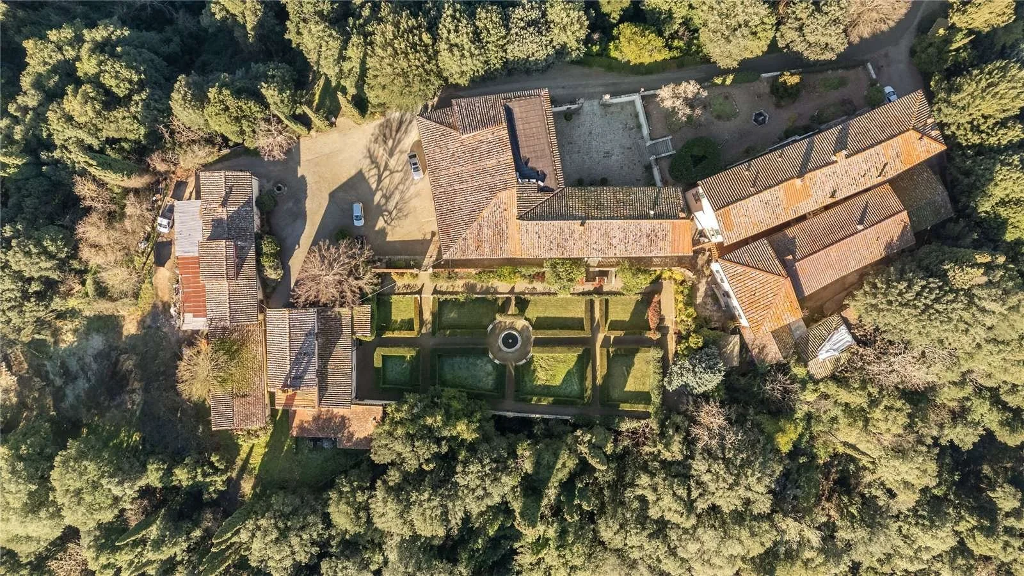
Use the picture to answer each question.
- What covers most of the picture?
trees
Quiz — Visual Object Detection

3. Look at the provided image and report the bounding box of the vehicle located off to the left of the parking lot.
[154,203,173,232]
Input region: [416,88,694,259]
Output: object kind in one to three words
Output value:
house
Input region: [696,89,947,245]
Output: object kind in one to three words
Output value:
house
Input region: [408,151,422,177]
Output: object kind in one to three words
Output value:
car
